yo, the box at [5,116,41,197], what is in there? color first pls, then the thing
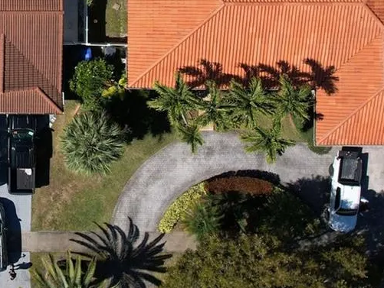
black truck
